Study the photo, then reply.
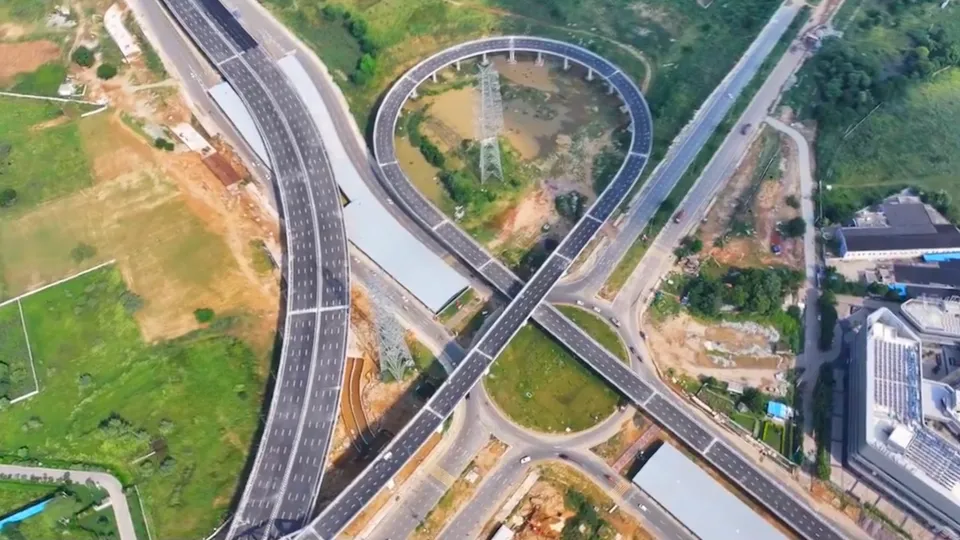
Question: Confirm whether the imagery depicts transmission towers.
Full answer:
Yes, the frame does contain a transmission tower.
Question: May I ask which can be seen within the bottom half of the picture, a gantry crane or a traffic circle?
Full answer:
Looking within the bottom half of the picture, you will find a traffic circle.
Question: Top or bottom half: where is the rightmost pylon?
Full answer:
You can find the rightmost pylon in the top half.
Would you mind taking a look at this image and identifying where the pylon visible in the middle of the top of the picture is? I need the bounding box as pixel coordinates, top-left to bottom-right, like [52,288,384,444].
[477,57,509,188]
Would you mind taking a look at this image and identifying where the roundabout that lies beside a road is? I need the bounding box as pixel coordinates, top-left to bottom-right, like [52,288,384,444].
[467,286,651,454]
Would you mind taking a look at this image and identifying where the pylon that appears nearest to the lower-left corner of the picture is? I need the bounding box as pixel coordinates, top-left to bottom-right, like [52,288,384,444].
[358,269,416,391]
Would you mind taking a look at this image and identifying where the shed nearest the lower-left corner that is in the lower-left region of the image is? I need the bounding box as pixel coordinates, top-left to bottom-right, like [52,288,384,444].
[0,494,50,527]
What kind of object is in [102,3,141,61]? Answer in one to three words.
shed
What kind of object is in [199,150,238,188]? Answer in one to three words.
shed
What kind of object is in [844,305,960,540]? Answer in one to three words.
building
